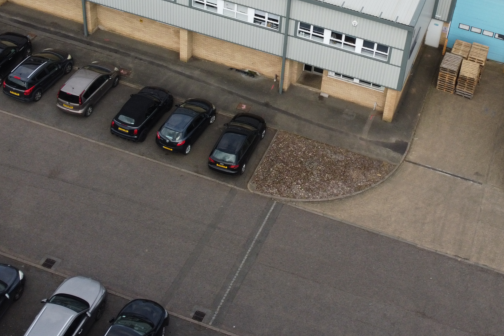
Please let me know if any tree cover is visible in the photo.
No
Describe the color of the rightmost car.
black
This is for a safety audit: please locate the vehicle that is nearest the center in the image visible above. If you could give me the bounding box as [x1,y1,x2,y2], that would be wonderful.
[204,113,267,177]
